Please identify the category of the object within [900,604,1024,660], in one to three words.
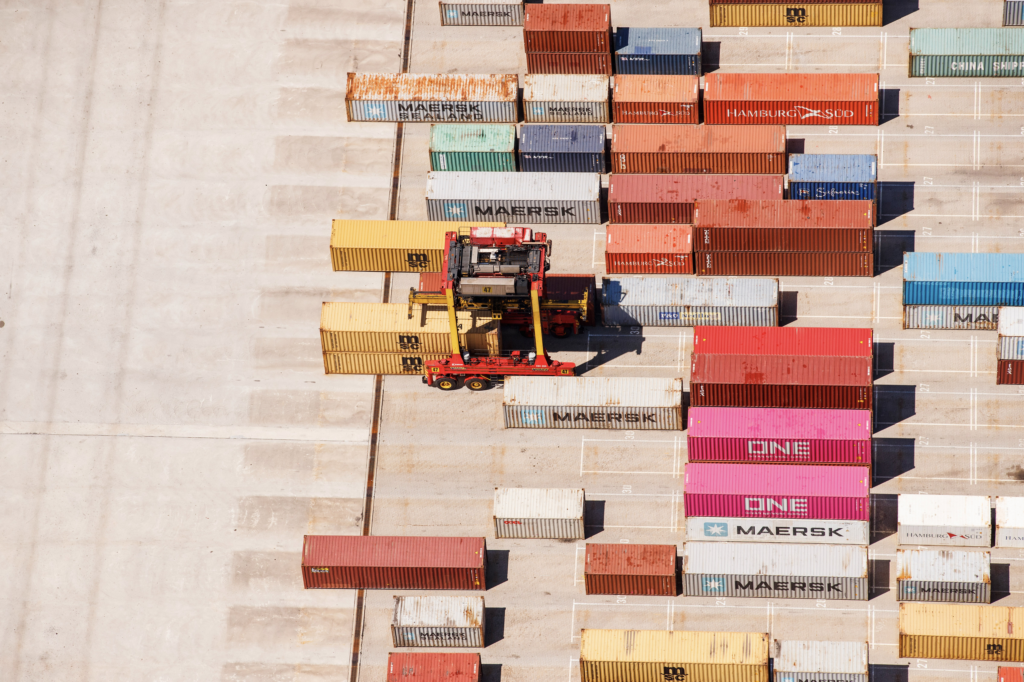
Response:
shipping container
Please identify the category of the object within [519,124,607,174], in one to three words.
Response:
shipping container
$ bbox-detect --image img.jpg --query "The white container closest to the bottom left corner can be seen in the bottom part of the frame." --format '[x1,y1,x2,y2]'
[391,596,486,648]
